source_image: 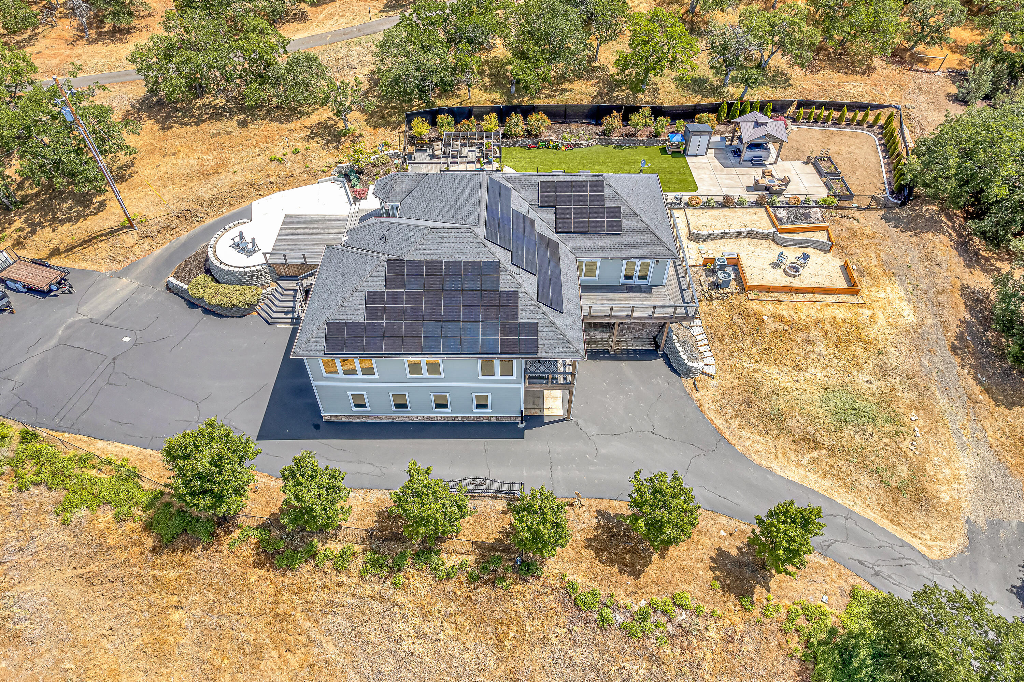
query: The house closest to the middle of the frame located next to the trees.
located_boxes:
[290,164,680,430]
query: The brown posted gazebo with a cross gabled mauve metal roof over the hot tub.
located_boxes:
[732,107,791,164]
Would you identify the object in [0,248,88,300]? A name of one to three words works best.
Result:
trailer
